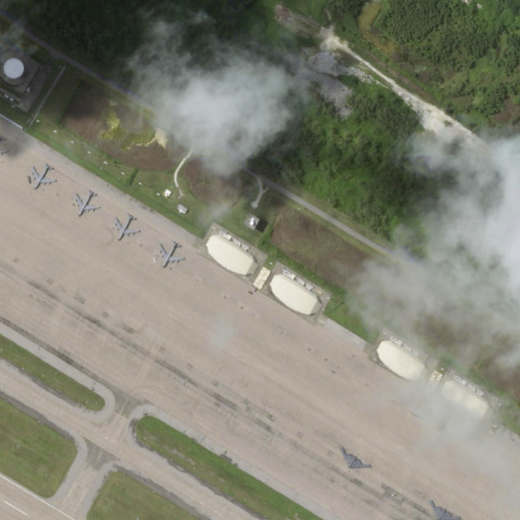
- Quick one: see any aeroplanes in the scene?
Yes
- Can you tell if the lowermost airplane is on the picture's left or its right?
right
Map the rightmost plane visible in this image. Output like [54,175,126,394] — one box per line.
[431,498,462,520]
